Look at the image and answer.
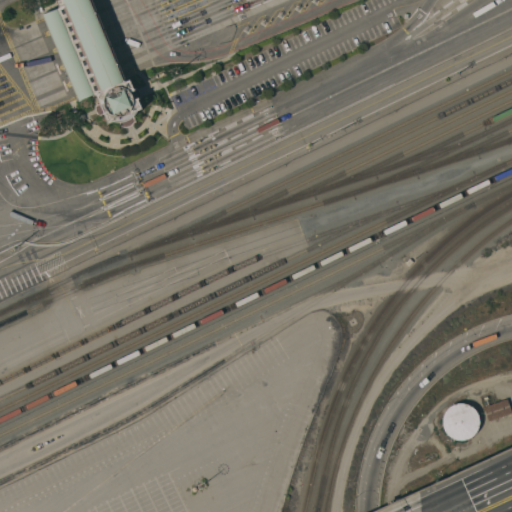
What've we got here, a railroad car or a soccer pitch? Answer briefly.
railroad car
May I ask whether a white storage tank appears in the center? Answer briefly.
No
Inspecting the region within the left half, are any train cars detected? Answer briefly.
Yes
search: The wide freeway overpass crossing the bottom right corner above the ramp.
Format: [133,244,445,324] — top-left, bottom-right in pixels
[371,449,512,512]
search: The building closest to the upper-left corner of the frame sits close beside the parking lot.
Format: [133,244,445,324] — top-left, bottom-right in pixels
[44,0,124,102]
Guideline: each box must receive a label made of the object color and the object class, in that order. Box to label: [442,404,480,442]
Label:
white storage tank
